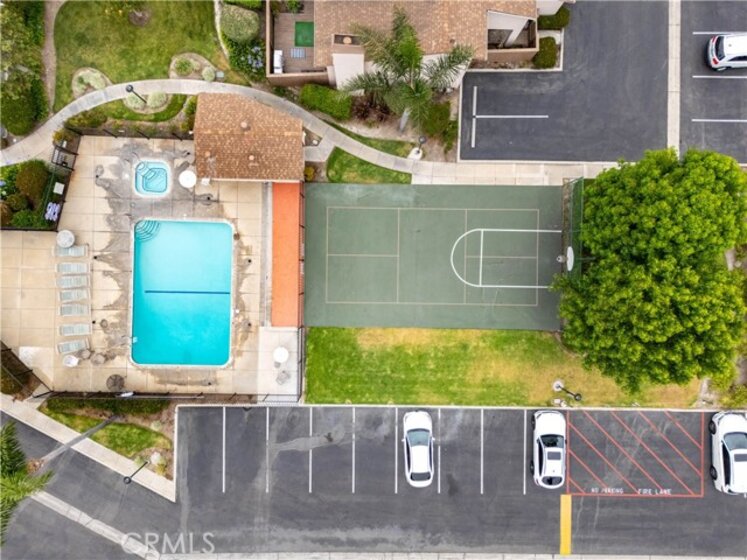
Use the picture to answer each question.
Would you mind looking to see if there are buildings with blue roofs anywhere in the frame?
No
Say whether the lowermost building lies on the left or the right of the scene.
left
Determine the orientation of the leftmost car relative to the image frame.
up and down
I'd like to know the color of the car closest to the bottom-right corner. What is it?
white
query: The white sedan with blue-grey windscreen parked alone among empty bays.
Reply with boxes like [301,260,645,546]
[400,409,437,491]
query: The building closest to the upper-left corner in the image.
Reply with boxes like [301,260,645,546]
[193,94,304,184]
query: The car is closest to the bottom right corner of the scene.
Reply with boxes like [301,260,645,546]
[708,408,747,495]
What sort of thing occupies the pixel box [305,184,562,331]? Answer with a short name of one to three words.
sports court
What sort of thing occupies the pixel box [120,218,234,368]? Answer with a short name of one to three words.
swimming pool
